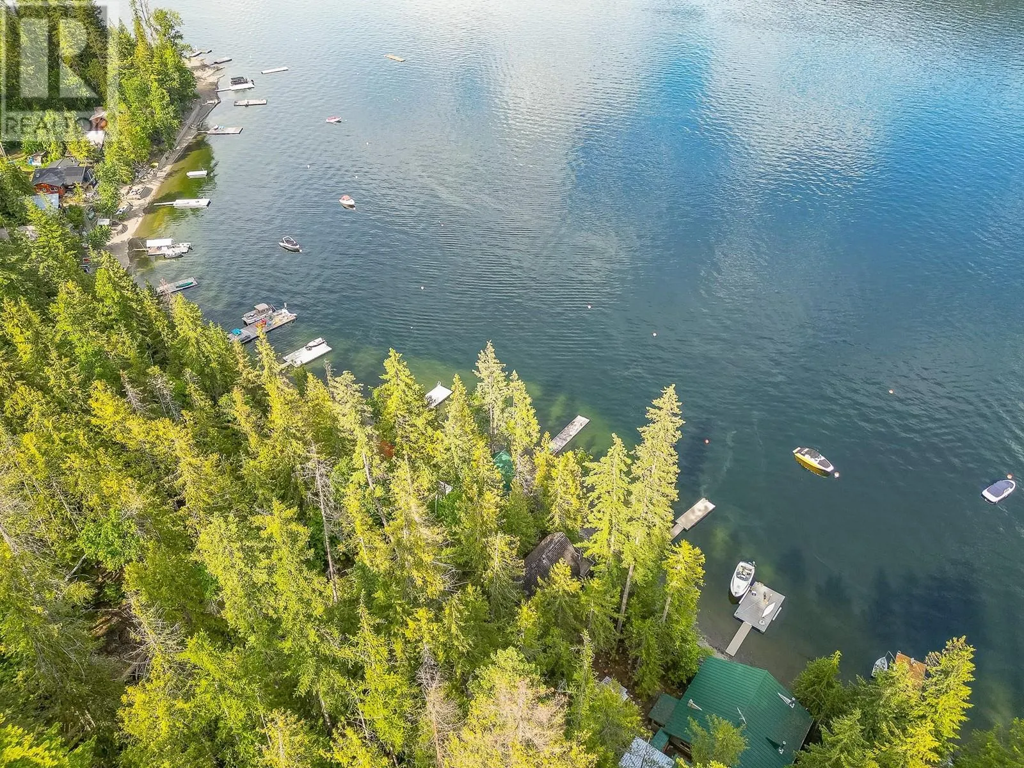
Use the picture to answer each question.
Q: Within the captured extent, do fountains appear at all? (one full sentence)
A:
No, no fountain is visible in the scene.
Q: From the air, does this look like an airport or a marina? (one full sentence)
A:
The picture captures a marina.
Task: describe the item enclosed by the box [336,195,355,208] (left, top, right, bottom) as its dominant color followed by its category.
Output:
white boat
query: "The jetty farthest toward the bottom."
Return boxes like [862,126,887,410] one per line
[888,651,929,687]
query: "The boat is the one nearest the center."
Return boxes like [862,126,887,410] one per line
[307,335,327,348]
